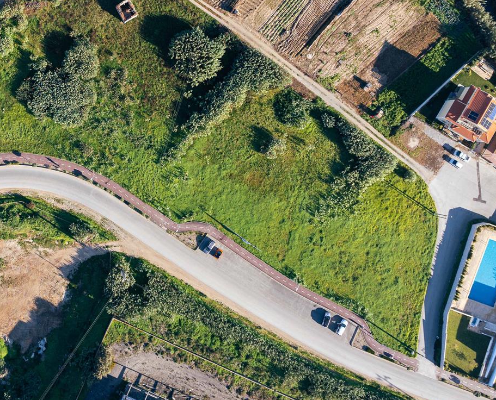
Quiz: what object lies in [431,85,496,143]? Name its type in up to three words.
house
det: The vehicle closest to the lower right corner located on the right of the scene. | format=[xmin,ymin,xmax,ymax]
[336,318,348,336]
